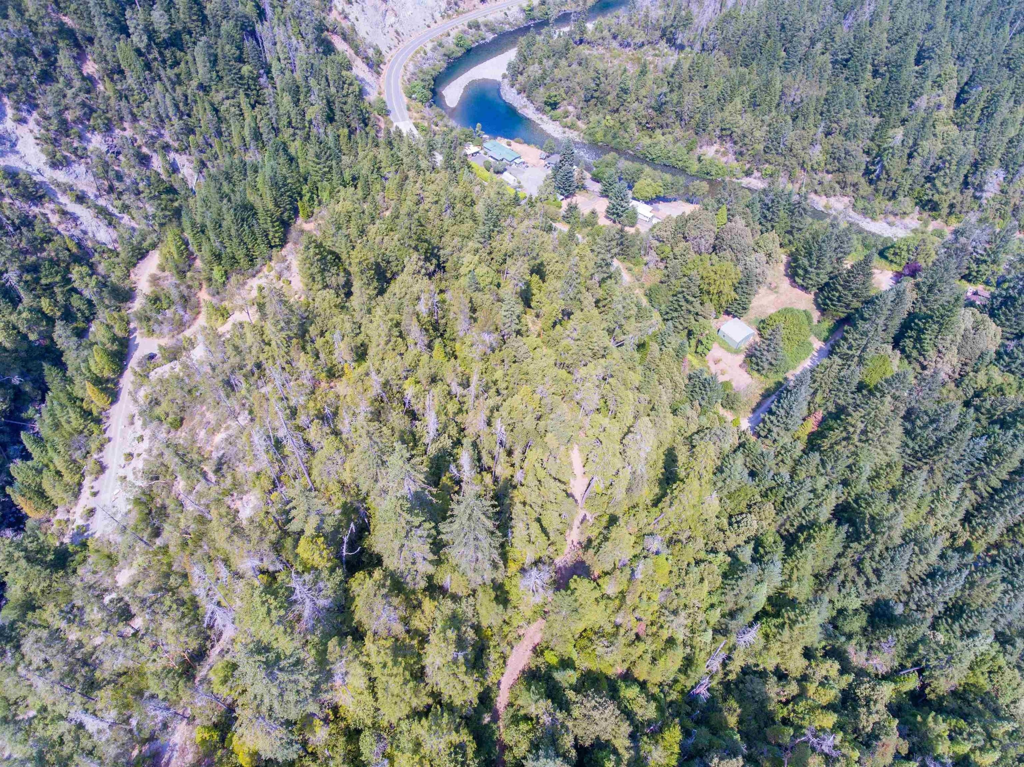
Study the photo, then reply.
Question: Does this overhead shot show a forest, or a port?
forest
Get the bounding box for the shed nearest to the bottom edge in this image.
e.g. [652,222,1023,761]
[720,318,755,348]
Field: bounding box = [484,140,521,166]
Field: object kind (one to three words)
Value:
house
